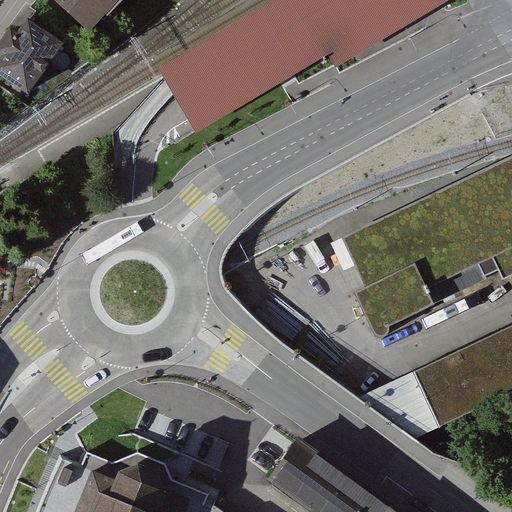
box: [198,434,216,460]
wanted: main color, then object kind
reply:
black car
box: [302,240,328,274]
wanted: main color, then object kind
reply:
white truck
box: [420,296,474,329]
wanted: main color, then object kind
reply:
white bus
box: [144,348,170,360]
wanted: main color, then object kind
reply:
black vehicle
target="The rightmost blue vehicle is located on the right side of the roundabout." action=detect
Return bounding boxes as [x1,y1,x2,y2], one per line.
[381,323,420,348]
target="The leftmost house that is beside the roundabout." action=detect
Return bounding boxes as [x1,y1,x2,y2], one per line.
[74,452,210,512]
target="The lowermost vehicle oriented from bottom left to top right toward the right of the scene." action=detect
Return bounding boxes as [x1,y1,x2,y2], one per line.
[359,370,380,392]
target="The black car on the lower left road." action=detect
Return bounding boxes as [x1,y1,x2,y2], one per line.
[0,415,20,440]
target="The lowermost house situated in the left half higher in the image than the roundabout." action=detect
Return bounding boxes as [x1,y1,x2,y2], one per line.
[0,18,62,94]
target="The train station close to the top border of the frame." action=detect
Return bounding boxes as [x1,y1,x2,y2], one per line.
[158,0,450,134]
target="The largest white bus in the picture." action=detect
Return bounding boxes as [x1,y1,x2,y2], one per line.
[80,220,146,268]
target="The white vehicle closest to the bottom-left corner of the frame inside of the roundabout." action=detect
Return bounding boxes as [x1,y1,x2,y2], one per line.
[82,368,106,388]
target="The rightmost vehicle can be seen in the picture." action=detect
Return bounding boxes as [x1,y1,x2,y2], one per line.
[488,286,508,302]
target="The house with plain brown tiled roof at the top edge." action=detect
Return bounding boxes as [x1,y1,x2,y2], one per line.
[57,0,121,31]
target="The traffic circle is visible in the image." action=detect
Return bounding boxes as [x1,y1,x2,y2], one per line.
[0,166,256,432]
